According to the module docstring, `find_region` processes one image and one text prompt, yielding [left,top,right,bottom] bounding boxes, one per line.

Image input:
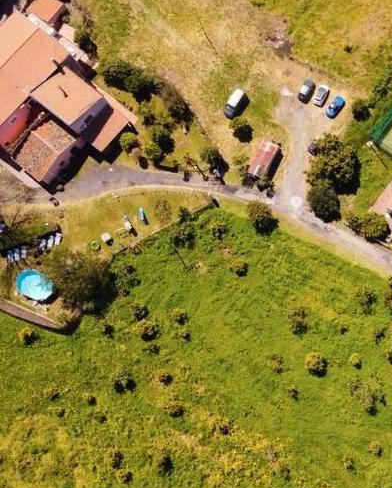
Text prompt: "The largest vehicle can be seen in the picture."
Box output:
[224,87,247,119]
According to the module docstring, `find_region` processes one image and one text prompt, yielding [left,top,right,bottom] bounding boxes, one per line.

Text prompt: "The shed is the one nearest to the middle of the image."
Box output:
[247,142,279,179]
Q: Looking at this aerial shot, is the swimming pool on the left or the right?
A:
left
